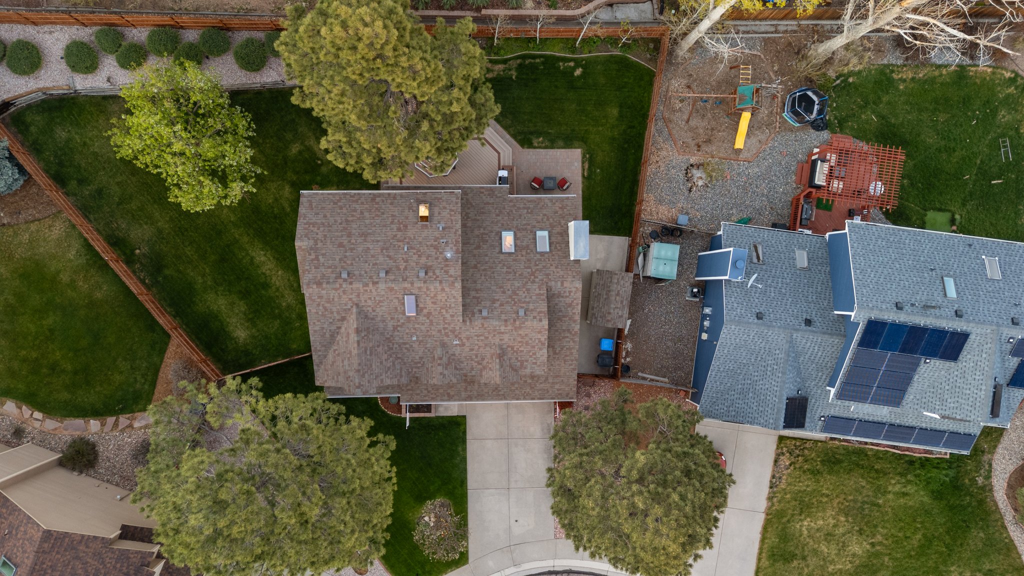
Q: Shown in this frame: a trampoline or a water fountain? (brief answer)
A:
trampoline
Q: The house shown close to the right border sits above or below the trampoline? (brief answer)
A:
below it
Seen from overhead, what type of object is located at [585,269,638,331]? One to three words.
shed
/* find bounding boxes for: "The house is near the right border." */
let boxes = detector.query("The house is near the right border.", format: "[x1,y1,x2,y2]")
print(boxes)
[687,219,1024,455]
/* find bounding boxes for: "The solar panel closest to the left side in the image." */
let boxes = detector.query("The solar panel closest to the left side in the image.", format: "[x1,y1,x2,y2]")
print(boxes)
[786,398,810,429]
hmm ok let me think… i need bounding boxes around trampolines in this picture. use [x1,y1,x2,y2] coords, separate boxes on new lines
[782,79,838,128]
